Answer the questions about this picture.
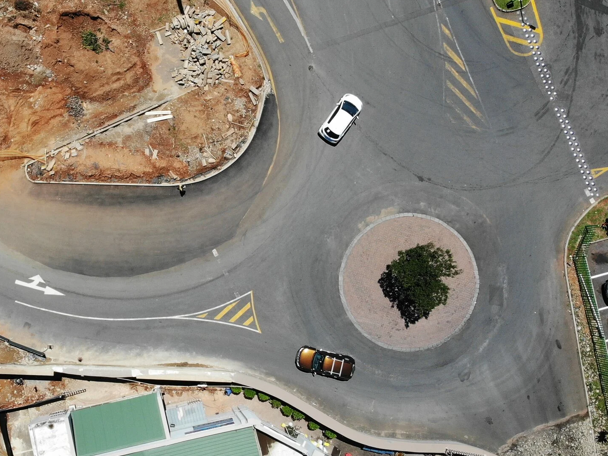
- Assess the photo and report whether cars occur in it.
Yes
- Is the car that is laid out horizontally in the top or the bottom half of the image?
bottom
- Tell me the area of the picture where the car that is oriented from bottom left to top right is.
top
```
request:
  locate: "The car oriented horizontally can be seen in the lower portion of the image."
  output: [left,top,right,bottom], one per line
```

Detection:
[293,345,357,382]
